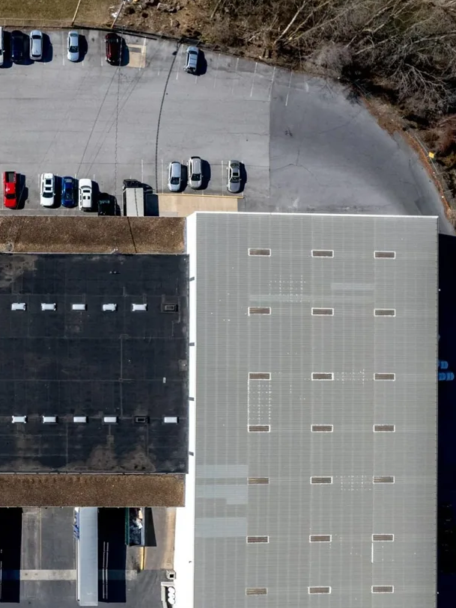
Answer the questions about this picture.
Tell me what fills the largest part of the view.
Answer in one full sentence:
Most of the picture is covered by buildings.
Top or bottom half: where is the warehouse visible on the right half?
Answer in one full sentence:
The bottom half of the photo is where the warehouse visible on the right half is.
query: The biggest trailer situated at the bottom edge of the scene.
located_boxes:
[74,506,98,606]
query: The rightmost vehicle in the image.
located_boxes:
[227,159,243,193]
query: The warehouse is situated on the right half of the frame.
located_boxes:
[174,212,437,608]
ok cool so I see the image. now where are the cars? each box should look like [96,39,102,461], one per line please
[98,191,115,216]
[78,178,95,212]
[39,172,56,207]
[65,29,82,63]
[61,175,76,207]
[9,29,26,63]
[29,30,44,61]
[185,46,201,75]
[0,26,6,67]
[227,159,243,193]
[188,157,205,189]
[105,32,122,67]
[167,161,184,192]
